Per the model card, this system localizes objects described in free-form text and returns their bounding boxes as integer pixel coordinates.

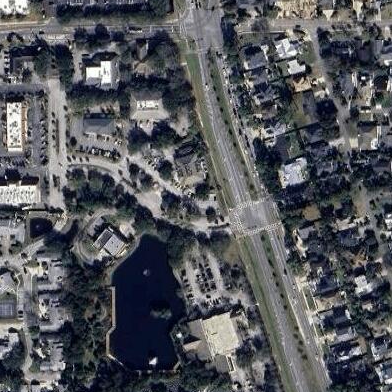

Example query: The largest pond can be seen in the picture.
[109,235,186,370]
